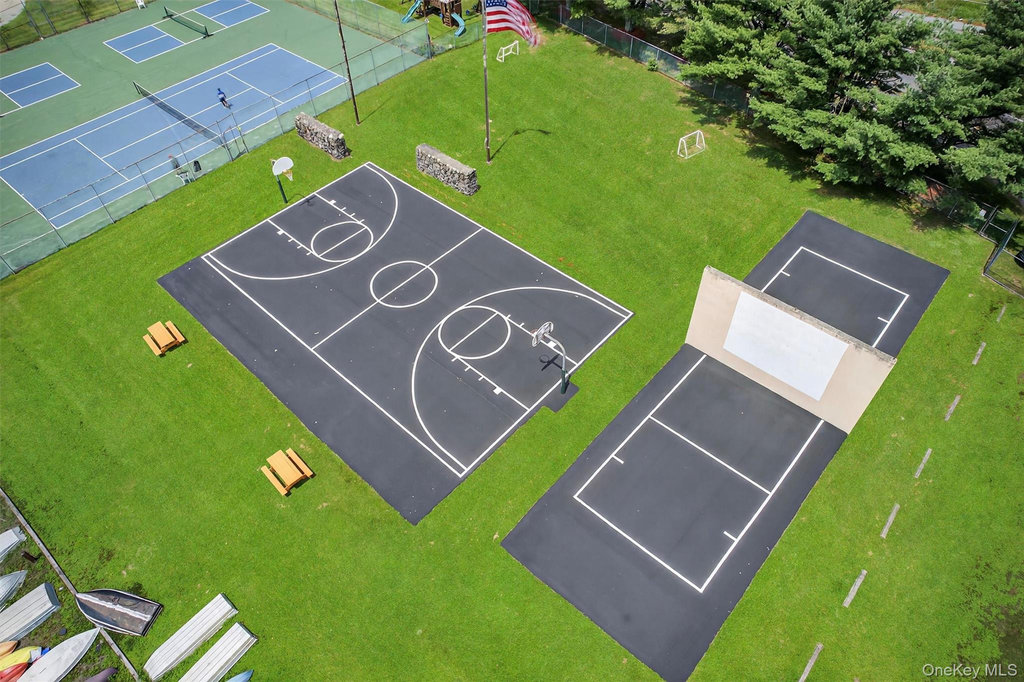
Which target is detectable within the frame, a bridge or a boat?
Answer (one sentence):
The one in the frame is a boat.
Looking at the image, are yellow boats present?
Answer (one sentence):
Yes, the photo shows a yellow boat.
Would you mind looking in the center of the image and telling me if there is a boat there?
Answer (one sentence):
No, there's no boat to be seen in the center of the image.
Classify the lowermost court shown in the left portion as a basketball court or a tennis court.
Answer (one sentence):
What you see as the lowermost court shown in the left portion is a basketball court.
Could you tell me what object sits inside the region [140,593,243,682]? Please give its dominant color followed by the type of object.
white boat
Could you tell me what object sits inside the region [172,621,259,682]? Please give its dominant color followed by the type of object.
white boat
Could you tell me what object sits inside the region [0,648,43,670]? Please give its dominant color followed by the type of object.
yellow boat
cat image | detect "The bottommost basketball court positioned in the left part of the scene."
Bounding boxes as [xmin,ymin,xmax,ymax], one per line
[157,160,635,524]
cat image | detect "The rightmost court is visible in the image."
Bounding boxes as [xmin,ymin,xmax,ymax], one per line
[502,211,950,682]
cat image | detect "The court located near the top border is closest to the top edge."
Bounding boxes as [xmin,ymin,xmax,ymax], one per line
[104,0,269,62]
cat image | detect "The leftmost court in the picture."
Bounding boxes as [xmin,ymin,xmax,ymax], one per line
[0,62,79,117]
